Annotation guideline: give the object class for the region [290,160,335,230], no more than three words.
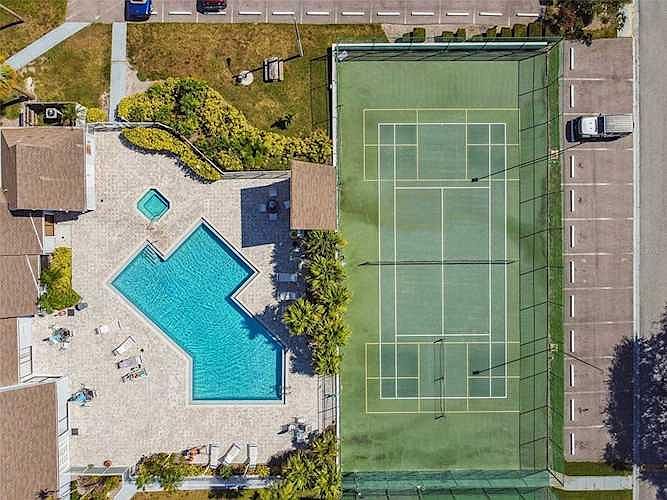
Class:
building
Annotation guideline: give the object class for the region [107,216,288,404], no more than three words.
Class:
swimming pool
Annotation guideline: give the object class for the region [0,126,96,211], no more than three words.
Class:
building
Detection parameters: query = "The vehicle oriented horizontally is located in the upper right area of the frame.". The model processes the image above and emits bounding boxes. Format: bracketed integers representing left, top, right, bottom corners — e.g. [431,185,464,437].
[565,113,633,141]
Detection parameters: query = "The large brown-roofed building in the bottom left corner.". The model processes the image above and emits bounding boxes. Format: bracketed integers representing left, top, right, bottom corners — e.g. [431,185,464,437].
[0,376,68,500]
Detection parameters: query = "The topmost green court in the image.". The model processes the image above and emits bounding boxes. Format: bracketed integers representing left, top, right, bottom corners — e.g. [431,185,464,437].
[337,45,549,469]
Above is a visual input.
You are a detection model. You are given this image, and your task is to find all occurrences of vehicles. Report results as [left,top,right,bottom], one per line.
[205,0,227,10]
[565,113,633,141]
[132,0,157,19]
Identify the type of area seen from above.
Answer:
sports ground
